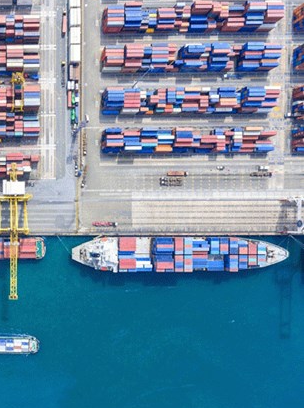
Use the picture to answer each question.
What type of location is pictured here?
port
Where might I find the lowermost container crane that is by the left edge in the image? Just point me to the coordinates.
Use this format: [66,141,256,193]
[0,161,28,301]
